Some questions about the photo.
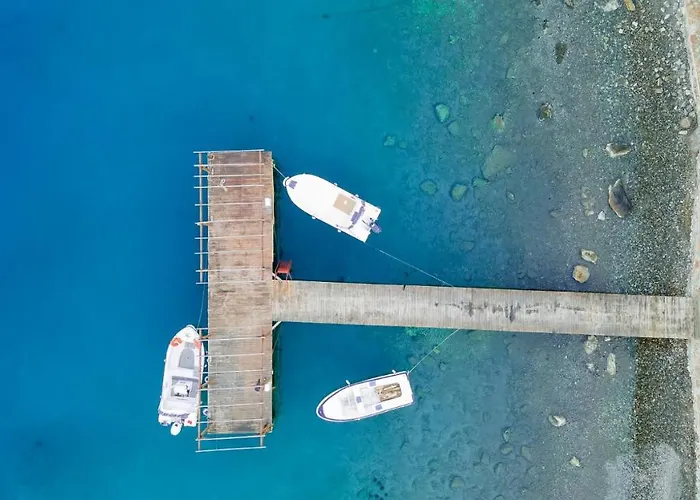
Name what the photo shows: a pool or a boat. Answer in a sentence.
The image shows a boat.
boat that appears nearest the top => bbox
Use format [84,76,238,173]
[282,175,383,242]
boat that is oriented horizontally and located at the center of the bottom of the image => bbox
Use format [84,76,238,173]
[316,369,414,421]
